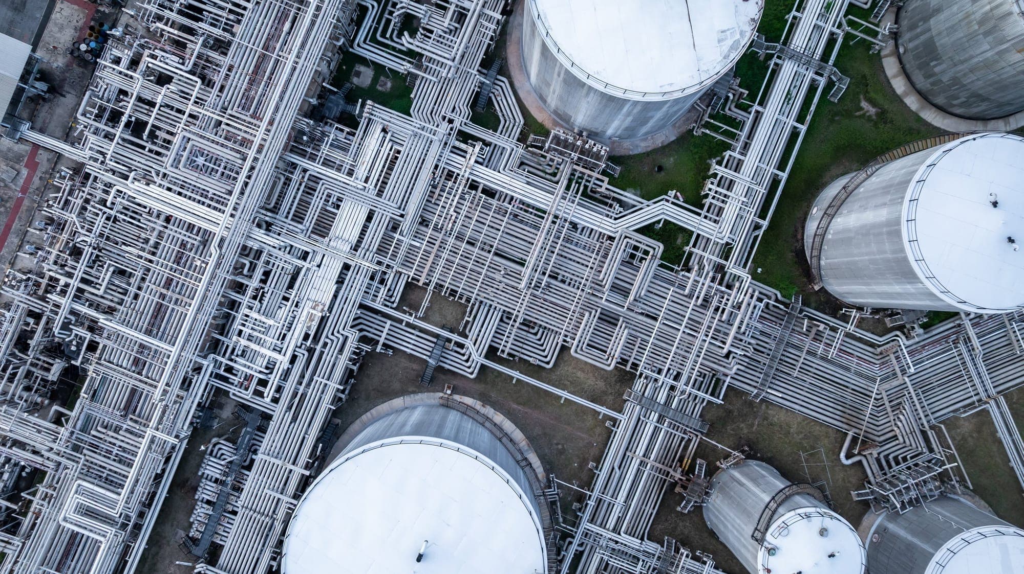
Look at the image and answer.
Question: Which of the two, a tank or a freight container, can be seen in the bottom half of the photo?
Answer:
tank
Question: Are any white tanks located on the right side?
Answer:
Yes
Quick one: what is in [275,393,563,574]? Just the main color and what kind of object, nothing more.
white storage tank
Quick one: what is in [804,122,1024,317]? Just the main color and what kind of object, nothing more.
white storage tank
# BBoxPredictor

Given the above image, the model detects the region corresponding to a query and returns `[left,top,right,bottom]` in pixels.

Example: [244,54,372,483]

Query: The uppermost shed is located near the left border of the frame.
[0,34,59,131]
